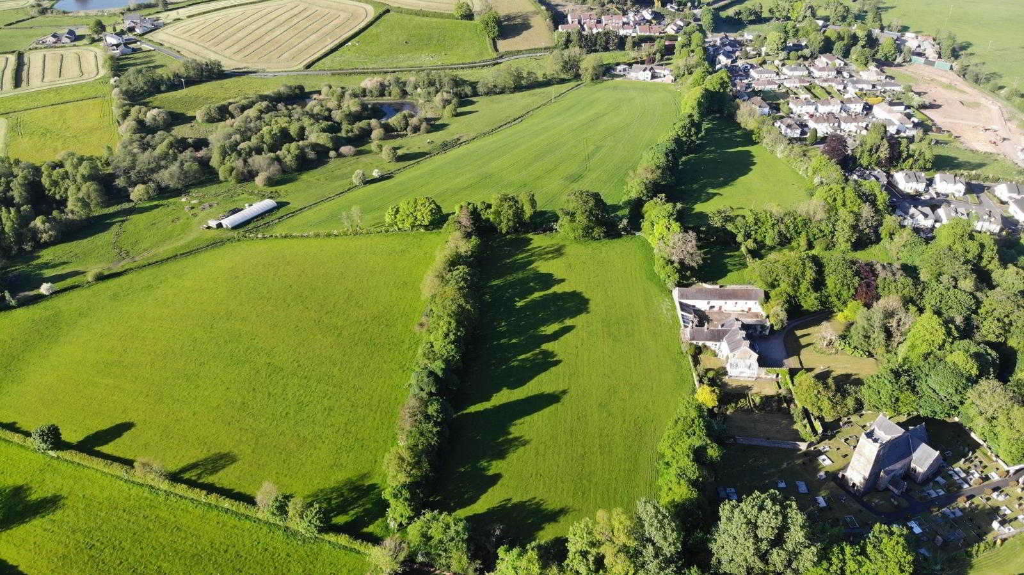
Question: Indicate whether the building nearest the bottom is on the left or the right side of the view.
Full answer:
The building nearest the bottom is on the right side of the image.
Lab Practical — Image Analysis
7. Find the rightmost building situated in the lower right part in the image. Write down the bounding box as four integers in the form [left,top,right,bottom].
[834,414,946,498]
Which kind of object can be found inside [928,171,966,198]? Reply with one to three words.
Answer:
house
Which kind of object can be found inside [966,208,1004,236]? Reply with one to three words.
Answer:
house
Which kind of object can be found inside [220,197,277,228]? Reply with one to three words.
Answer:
greenhouse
